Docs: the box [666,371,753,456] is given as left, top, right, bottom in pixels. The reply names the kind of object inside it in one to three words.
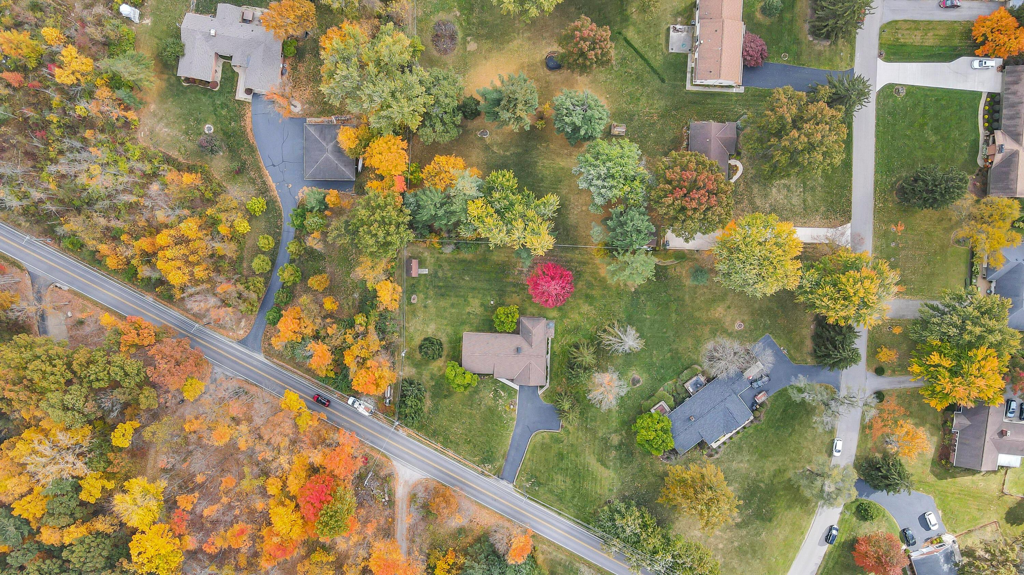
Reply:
house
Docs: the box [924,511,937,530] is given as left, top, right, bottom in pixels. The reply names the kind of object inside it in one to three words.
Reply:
vehicle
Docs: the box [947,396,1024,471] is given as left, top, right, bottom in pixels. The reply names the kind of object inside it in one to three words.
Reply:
house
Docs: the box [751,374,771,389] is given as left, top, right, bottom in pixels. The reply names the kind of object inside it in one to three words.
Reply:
vehicle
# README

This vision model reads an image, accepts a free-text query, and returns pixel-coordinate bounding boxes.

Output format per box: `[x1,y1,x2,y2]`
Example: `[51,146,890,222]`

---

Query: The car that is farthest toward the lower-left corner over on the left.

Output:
[313,394,331,408]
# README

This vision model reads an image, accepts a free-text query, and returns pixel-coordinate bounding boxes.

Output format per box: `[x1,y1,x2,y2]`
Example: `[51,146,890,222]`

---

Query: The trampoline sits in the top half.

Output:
[545,53,562,71]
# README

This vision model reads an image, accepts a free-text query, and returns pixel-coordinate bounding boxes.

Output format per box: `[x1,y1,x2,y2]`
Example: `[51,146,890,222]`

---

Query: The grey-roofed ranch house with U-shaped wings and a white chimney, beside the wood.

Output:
[177,3,283,93]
